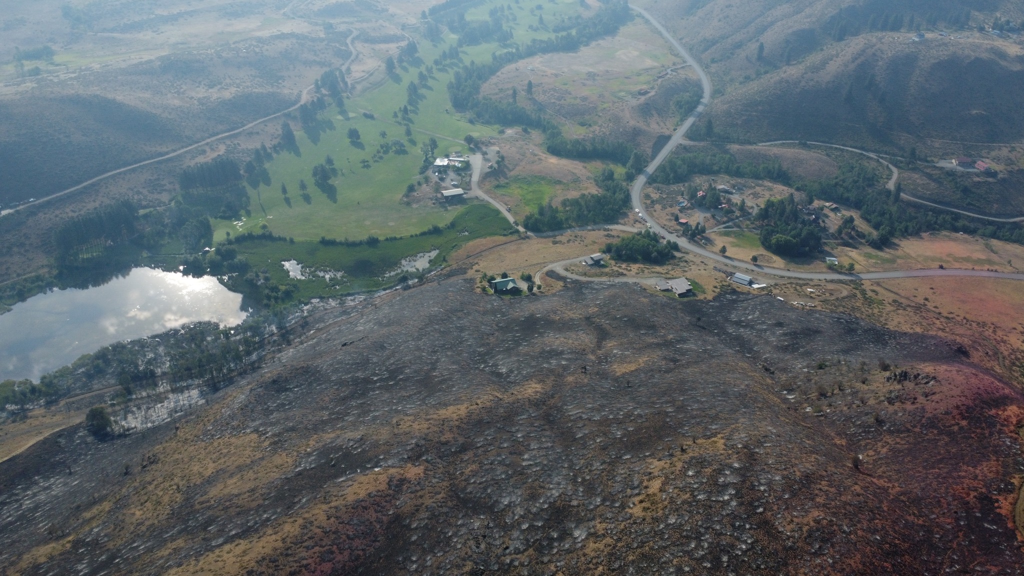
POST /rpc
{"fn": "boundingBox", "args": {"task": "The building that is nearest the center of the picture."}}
[491,277,522,296]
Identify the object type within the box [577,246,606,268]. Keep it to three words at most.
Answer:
house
